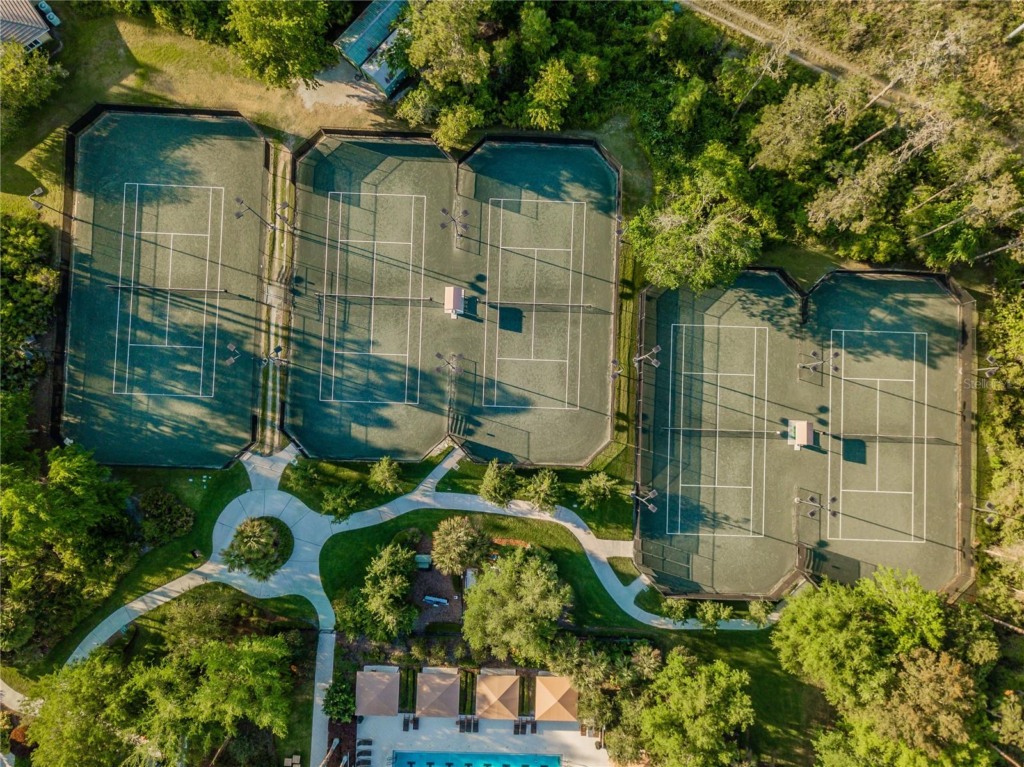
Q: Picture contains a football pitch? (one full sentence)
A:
No, there's no football pitch here.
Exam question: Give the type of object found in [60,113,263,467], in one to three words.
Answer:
tennis court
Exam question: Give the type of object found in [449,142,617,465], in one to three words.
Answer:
tennis court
